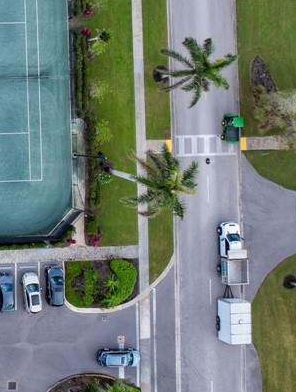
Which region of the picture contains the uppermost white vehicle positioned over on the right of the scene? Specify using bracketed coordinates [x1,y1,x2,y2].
[215,222,248,286]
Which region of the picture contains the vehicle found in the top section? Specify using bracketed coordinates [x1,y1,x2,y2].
[219,116,242,142]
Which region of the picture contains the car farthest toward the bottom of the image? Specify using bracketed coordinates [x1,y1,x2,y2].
[95,346,139,368]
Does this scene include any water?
No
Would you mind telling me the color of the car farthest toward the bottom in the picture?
blue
